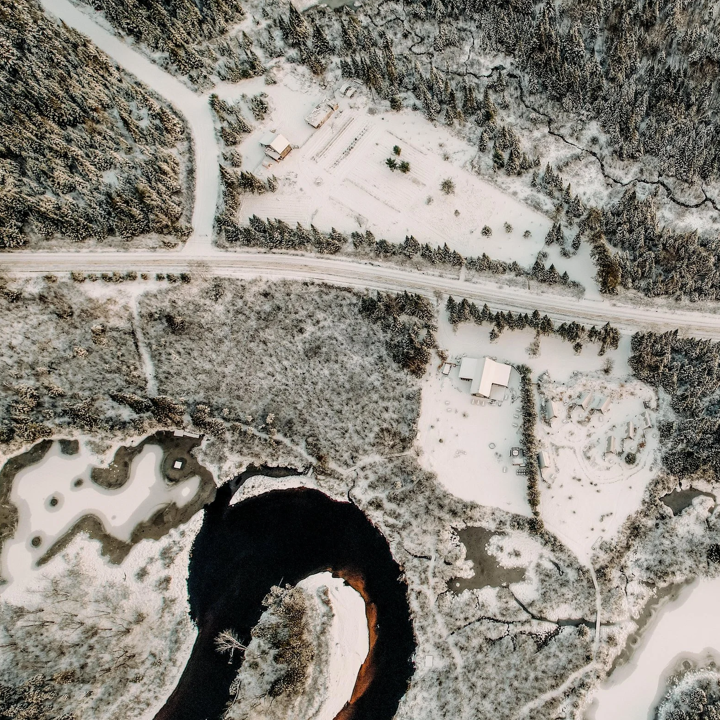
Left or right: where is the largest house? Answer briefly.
right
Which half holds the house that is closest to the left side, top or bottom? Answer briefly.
top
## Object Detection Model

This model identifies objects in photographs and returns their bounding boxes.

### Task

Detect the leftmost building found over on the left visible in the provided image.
[261,130,292,163]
